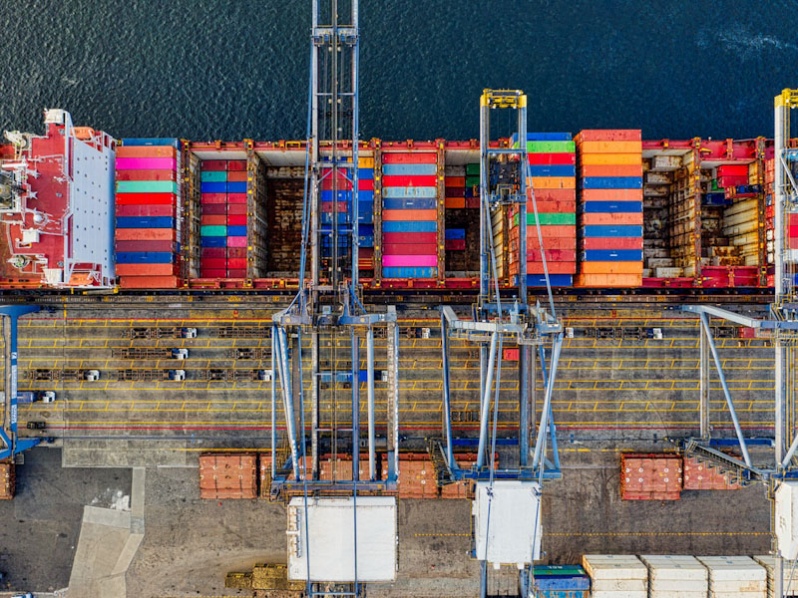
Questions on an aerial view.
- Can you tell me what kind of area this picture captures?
port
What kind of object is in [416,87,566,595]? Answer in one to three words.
container crane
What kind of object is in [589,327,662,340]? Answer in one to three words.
vehicle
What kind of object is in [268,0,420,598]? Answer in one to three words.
container crane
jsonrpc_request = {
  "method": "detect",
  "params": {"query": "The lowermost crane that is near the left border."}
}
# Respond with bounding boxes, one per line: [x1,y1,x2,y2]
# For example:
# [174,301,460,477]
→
[0,306,75,464]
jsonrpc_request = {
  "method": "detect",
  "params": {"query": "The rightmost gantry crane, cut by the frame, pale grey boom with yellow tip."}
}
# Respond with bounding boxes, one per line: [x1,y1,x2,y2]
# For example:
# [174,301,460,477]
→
[652,87,798,598]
